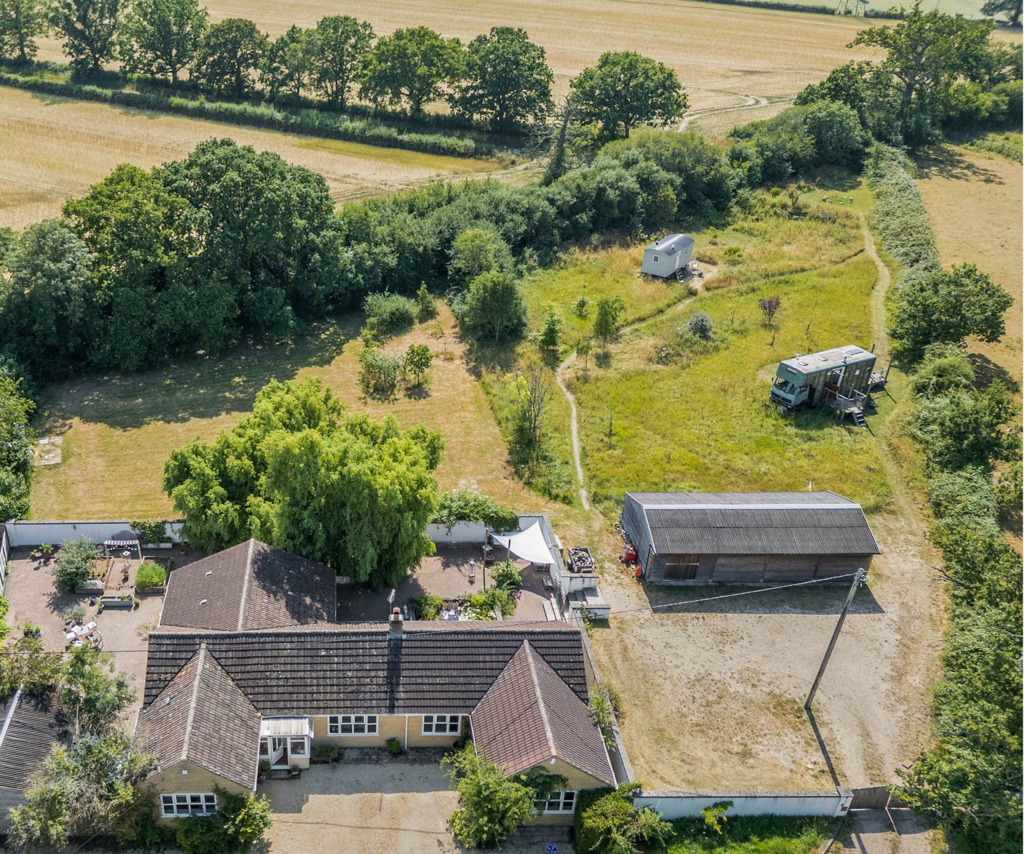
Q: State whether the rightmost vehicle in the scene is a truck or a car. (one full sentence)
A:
I'd identify the rightmost vehicle as a truck.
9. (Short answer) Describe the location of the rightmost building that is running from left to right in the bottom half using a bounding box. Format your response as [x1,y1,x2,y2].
[623,488,890,585]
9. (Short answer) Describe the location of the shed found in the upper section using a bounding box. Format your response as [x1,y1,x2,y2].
[640,233,695,284]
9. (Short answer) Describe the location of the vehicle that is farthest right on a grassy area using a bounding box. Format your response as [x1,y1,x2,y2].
[768,345,876,413]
